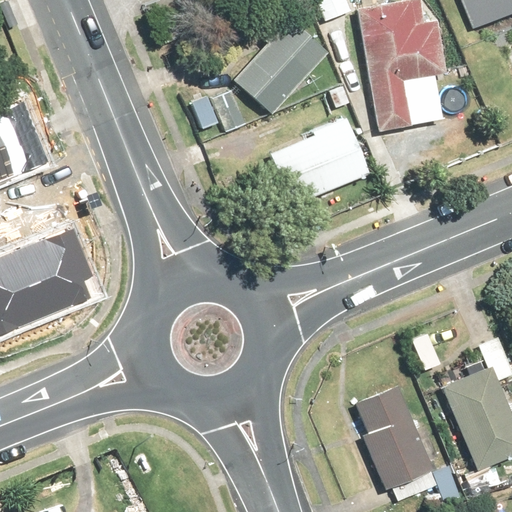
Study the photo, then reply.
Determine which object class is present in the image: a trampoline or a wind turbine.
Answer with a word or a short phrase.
trampoline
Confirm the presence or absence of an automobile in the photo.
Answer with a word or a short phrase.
Yes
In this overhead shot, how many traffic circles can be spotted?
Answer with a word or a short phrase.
1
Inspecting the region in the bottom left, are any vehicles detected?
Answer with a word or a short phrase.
Yes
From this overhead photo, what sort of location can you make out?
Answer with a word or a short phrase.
residential area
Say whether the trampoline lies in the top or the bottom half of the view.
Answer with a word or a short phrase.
top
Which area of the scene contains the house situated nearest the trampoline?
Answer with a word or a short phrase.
top right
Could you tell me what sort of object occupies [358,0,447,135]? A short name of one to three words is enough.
house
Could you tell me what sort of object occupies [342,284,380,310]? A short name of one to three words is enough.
truck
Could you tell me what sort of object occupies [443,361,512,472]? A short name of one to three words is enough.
house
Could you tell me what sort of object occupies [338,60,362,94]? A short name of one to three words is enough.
car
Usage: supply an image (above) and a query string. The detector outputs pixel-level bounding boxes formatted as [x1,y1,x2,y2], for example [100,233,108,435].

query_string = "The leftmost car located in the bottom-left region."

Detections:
[0,444,28,466]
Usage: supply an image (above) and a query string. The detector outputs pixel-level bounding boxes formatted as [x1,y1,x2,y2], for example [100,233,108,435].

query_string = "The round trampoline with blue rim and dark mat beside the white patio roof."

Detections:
[440,86,467,114]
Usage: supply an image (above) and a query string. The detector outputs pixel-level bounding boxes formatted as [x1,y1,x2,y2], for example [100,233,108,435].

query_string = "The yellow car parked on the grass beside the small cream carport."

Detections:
[428,325,459,344]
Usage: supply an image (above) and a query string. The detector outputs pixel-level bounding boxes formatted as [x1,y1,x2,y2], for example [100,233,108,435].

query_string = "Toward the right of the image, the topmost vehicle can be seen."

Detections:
[328,27,352,64]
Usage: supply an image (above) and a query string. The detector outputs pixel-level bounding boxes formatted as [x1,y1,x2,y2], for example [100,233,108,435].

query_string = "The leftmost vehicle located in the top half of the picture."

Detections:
[6,182,37,200]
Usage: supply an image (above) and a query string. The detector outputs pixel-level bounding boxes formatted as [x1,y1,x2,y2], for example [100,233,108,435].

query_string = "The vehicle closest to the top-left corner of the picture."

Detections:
[80,14,103,50]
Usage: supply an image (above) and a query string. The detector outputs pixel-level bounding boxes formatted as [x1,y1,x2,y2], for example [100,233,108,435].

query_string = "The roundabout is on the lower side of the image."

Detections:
[170,302,244,376]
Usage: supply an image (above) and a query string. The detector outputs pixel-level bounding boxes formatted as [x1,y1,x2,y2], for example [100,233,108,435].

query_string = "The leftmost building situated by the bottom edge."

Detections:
[354,385,437,501]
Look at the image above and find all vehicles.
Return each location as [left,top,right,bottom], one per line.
[342,284,380,310]
[0,444,28,466]
[80,14,103,50]
[338,60,362,94]
[428,325,459,344]
[434,201,460,218]
[6,182,37,200]
[503,172,512,188]
[40,166,74,186]
[502,236,512,253]
[198,72,233,92]
[328,27,352,64]
[30,500,65,512]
